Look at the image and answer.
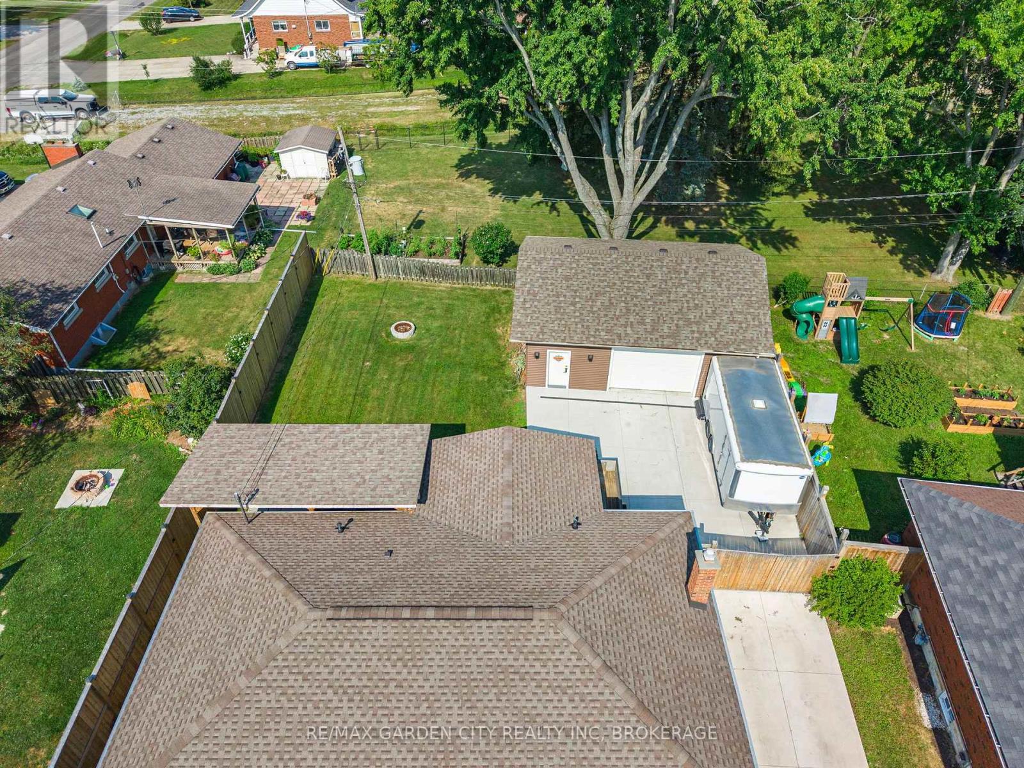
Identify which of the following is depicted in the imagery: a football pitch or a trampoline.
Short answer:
trampoline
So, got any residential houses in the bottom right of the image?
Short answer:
Yes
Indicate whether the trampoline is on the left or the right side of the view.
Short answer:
right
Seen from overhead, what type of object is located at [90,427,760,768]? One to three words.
house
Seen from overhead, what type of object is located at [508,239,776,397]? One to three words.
building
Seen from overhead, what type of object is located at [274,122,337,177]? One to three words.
shed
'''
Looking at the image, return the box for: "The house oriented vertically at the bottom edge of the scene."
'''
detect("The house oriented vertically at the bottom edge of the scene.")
[894,476,1024,768]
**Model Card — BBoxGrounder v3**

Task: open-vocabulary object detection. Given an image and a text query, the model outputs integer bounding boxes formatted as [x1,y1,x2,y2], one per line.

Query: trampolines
[915,292,971,341]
